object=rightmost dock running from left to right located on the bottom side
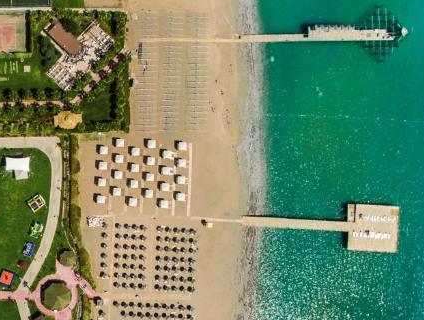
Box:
[229,203,399,252]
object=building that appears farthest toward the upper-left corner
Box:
[46,20,82,58]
